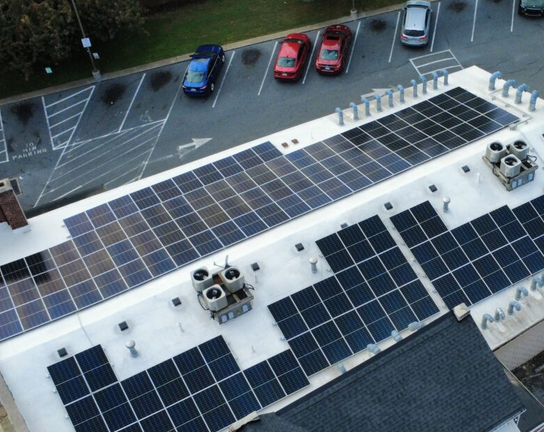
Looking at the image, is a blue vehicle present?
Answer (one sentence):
Yes, a blue vehicle is visible in the scene.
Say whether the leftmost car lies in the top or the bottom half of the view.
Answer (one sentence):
The leftmost car is in the top half of the image.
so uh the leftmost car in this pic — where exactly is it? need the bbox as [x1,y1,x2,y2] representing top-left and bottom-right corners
[178,45,227,98]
